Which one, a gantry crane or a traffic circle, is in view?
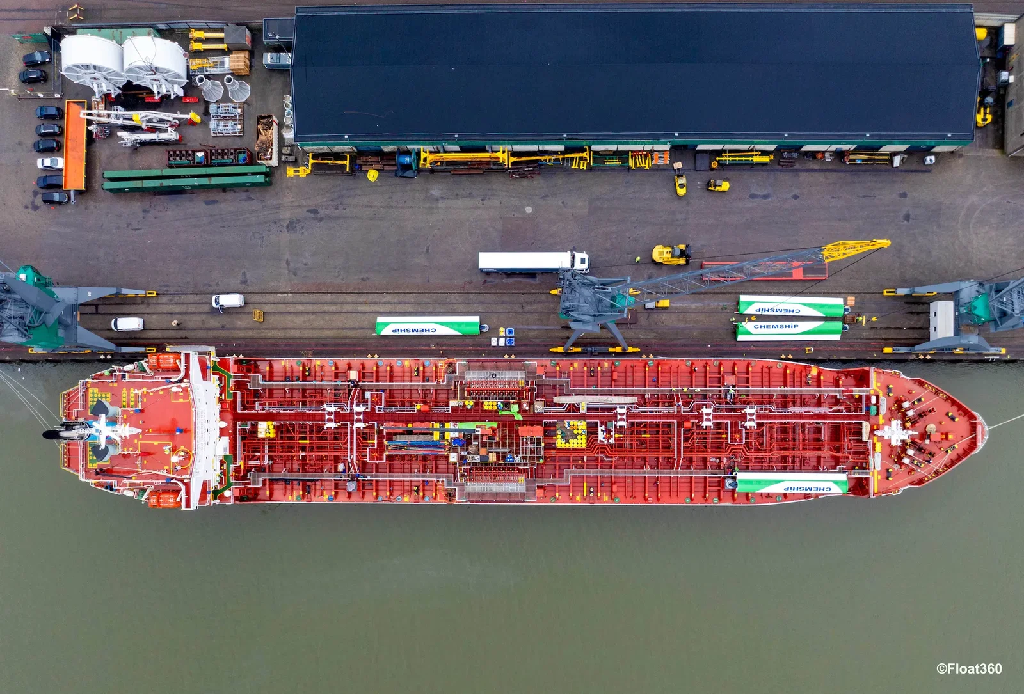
gantry crane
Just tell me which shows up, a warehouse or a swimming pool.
warehouse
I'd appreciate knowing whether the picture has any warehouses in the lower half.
No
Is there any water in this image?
Yes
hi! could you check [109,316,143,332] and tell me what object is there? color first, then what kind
white vehicle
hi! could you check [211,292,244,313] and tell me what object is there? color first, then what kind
white vehicle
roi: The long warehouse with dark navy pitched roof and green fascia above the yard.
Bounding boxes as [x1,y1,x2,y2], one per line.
[291,5,980,158]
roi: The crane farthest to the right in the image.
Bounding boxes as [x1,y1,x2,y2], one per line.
[888,273,1024,353]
